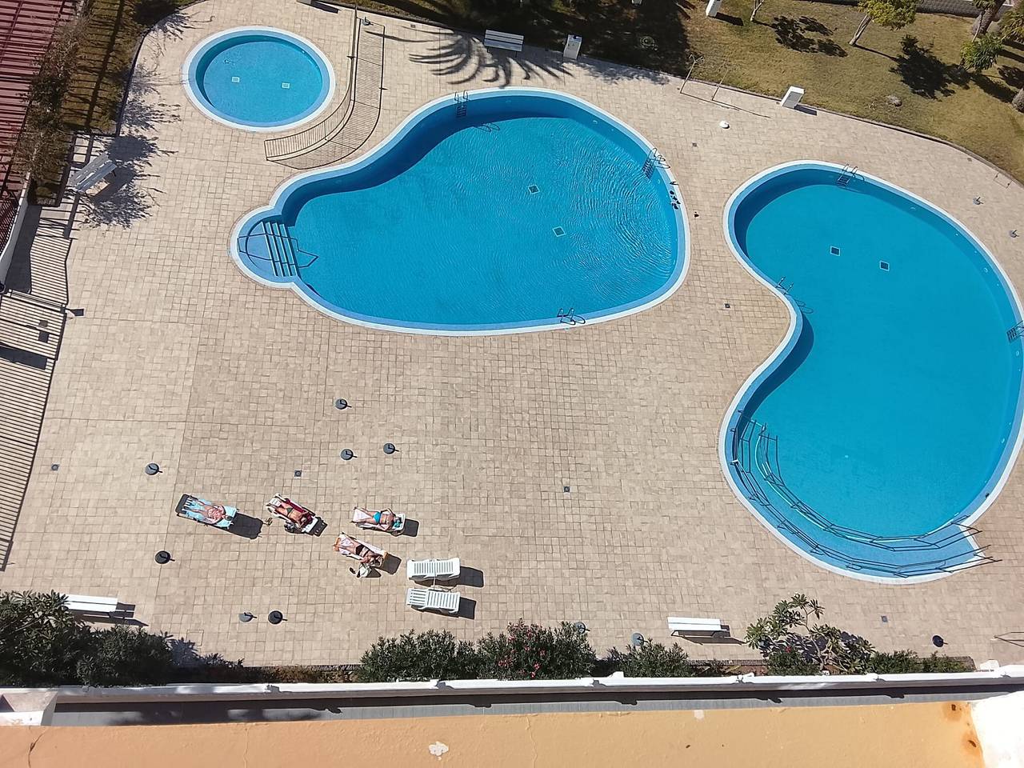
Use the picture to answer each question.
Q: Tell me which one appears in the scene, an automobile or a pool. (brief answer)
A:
pool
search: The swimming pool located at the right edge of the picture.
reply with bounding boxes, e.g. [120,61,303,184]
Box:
[713,157,1024,588]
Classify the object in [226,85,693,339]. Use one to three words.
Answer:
swimming pool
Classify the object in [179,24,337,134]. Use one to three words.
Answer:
swimming pool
